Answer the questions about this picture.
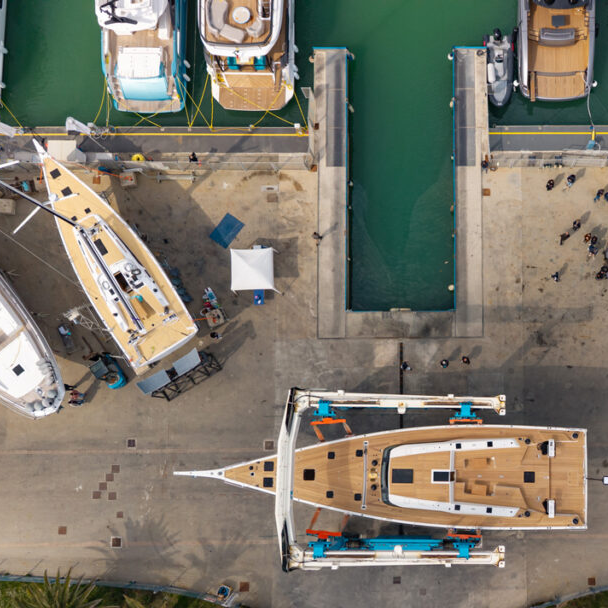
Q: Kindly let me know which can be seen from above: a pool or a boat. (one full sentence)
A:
Of the two, only a boat appears.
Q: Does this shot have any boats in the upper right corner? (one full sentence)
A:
Yes, looking in the upper right corner, one can make out a boat.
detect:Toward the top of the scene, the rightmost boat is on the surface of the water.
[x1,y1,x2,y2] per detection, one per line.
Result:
[517,0,596,102]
